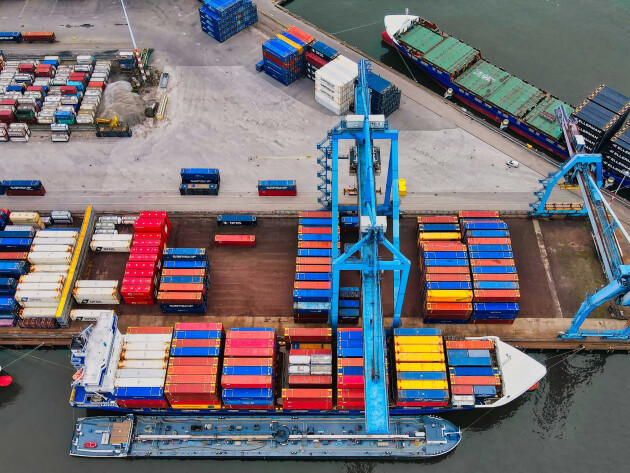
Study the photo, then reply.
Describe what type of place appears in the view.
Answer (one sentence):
What you see here is a port.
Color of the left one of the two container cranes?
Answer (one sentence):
The left one of the two container cranes looks blue in the image.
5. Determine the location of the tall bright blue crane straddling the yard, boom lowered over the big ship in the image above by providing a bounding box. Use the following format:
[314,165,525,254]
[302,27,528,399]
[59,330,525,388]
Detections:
[315,60,411,433]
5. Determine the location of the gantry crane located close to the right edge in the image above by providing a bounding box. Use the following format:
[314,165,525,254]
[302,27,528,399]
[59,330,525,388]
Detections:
[531,99,630,334]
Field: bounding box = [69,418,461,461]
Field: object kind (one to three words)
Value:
ship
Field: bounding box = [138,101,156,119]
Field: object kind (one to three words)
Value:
vehicle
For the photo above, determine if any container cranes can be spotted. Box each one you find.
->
[531,99,630,334]
[315,60,411,433]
